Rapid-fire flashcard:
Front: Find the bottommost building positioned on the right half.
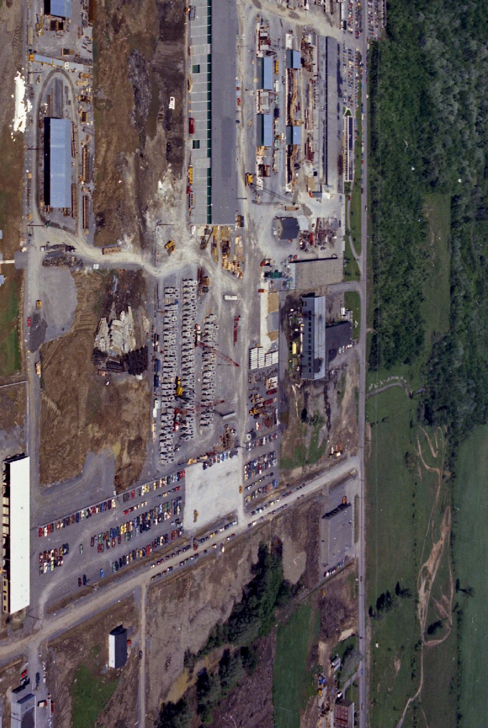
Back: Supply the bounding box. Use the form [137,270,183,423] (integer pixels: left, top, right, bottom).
[338,699,355,728]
